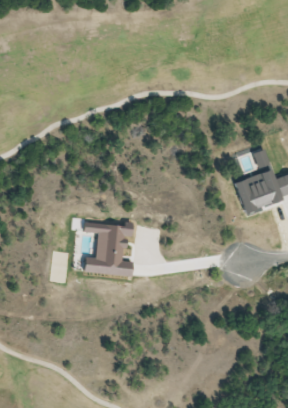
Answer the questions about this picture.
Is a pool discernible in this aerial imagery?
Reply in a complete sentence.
Yes, looking at the shot, I can spot a pool.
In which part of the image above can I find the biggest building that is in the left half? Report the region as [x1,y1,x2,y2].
[84,222,134,277]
